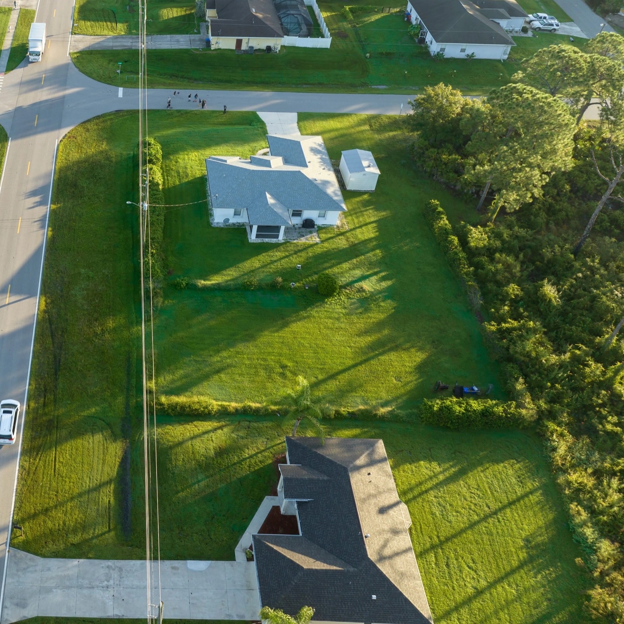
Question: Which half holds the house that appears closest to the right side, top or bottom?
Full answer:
The house that appears closest to the right side sits in the top half of the picture.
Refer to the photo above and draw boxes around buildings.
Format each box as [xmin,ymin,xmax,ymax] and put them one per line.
[204,0,285,50]
[339,147,380,187]
[408,0,530,57]
[251,435,435,624]
[205,135,347,240]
